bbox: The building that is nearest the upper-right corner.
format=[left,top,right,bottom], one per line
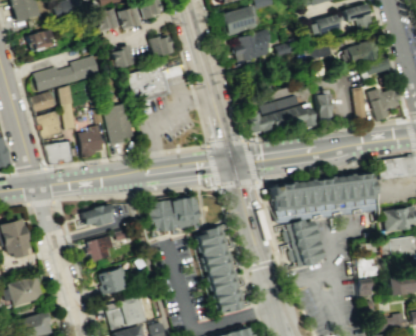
[344,2,372,30]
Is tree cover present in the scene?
Yes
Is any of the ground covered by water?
No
